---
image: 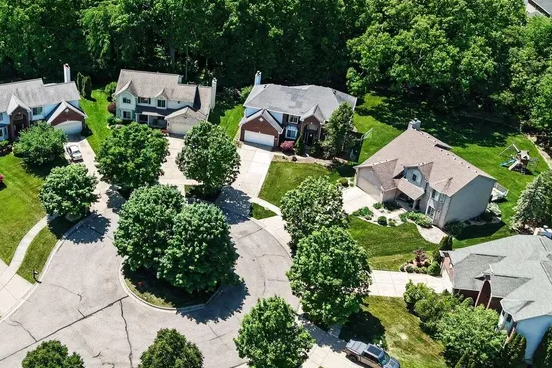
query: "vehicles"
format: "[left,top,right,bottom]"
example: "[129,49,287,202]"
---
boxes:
[65,139,85,159]
[345,339,404,368]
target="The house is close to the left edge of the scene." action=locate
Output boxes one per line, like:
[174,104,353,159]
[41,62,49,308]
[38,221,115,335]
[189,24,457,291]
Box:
[0,58,92,142]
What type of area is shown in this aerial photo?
residential area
